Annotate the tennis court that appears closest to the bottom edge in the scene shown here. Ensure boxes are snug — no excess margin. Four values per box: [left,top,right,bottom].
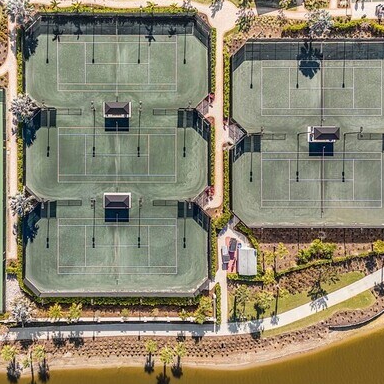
[26,200,208,292]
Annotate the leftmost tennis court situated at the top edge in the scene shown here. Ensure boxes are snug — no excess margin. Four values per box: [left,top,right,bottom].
[26,17,208,107]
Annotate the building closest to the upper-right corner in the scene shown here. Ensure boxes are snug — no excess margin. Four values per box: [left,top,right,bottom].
[308,126,340,142]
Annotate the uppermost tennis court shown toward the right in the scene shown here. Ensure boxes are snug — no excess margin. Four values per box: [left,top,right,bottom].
[229,43,384,133]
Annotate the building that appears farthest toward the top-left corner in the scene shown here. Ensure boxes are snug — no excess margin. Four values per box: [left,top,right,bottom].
[103,102,131,117]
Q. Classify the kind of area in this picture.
sports ground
